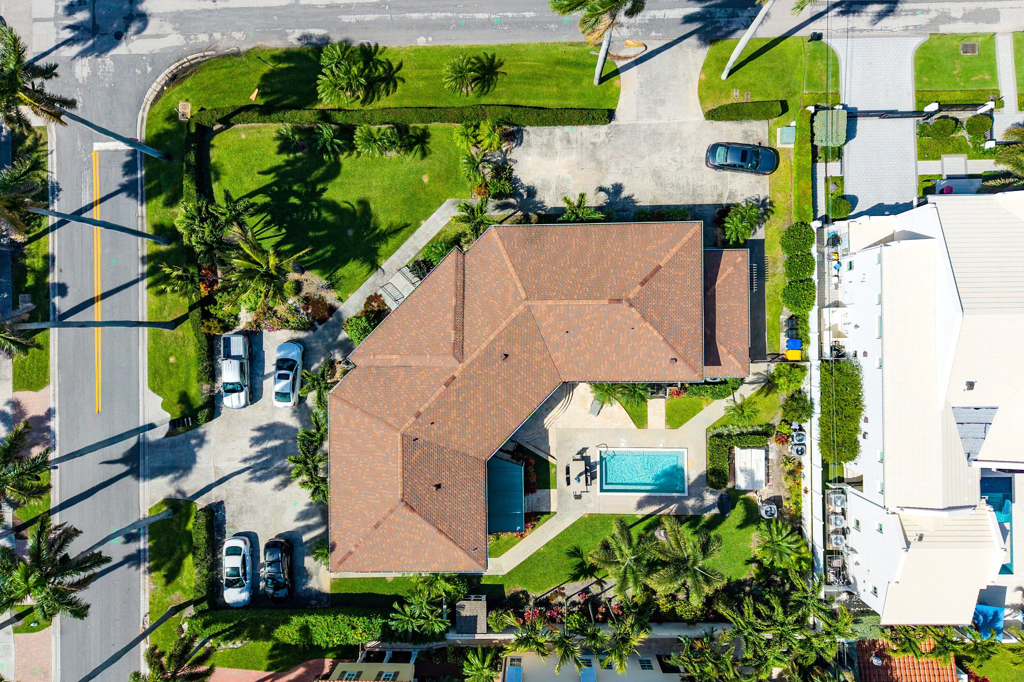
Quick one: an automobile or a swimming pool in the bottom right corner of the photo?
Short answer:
swimming pool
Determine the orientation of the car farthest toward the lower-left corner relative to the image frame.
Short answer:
vertically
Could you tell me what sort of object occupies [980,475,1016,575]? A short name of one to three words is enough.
swimming pool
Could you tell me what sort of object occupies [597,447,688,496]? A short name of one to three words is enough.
swimming pool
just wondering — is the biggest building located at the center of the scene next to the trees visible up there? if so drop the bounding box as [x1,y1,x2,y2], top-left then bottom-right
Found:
[326,219,752,575]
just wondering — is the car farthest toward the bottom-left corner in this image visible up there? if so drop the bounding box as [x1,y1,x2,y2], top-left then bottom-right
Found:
[219,536,255,607]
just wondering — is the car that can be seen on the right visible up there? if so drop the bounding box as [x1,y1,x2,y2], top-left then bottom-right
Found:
[704,141,779,176]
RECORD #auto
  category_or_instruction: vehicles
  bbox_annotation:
[216,333,254,409]
[271,342,305,408]
[260,536,293,603]
[219,536,255,607]
[704,141,779,176]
